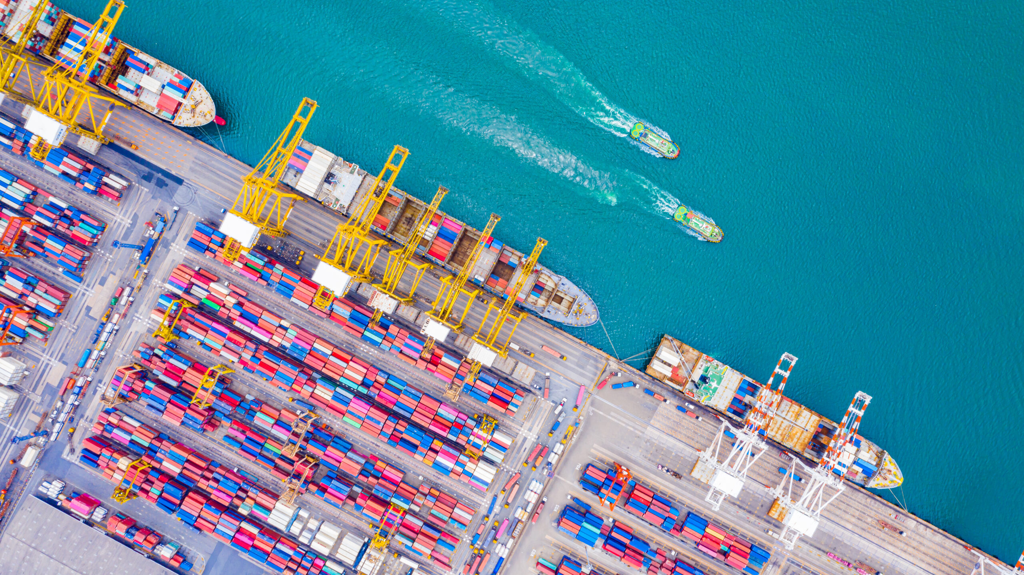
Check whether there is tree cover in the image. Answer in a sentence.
No, the picture contains no tree cover.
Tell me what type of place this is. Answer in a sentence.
This image shows a port.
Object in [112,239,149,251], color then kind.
blue vehicle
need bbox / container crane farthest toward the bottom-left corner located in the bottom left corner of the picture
[111,456,153,502]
